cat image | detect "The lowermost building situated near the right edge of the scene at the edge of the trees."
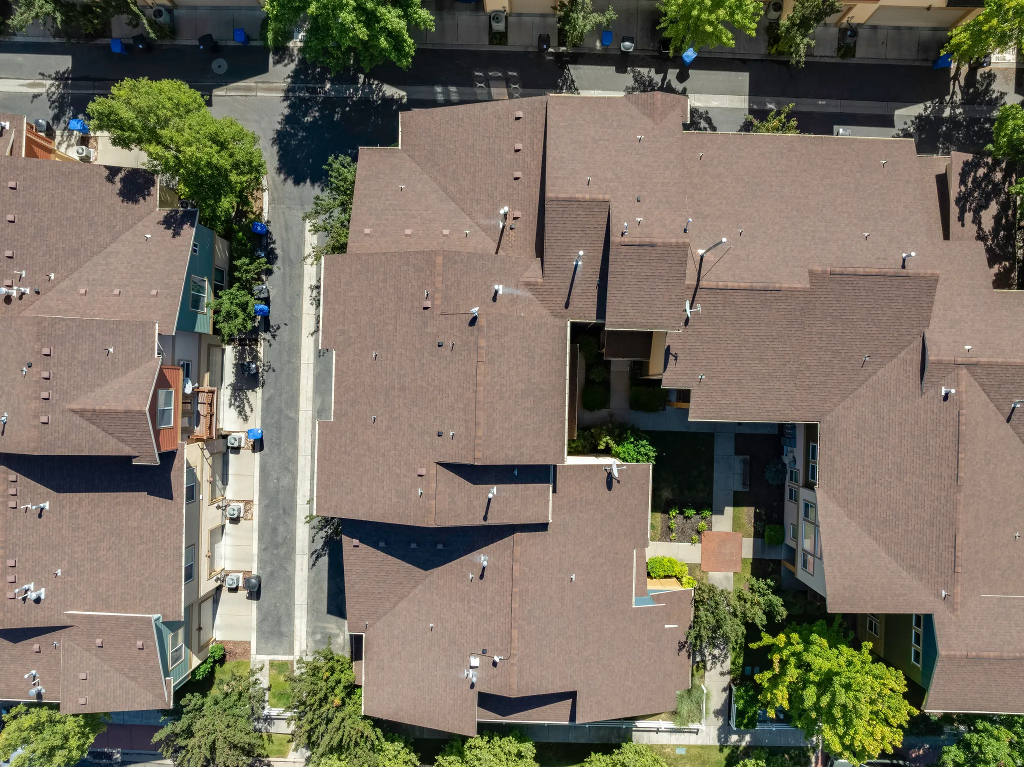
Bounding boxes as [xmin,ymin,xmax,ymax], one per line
[637,129,1024,715]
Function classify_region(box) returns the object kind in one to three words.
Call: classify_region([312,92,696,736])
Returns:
building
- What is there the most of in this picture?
buildings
